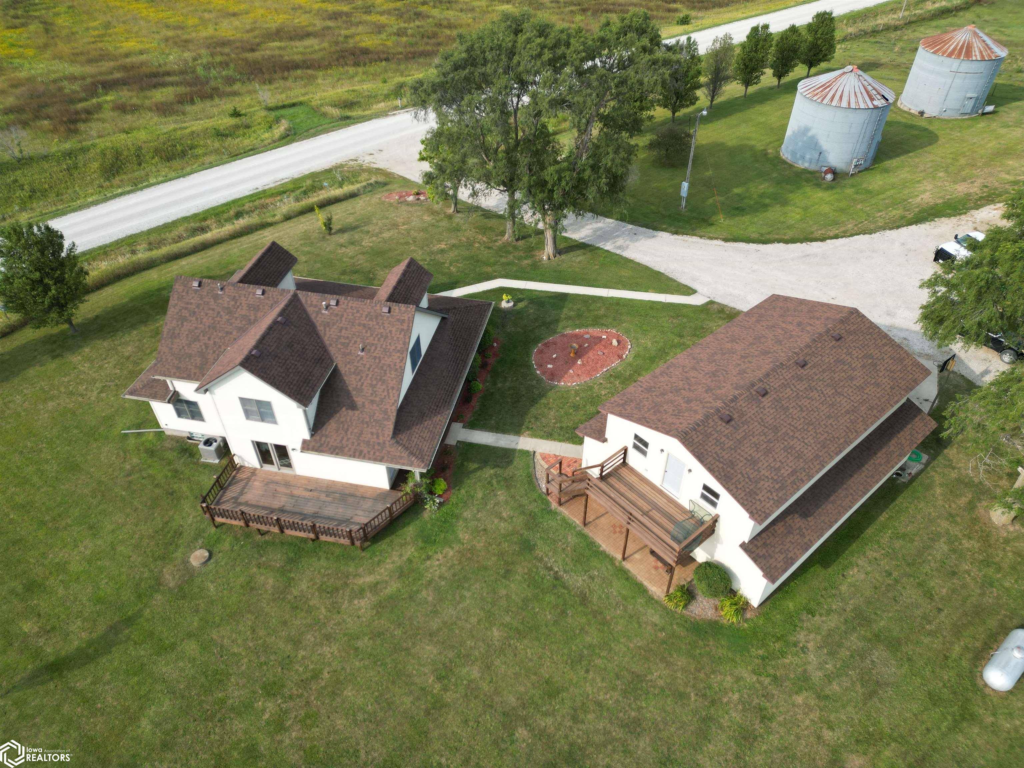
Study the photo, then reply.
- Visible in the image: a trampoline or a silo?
silo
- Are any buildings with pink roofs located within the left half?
No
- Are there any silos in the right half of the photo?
Yes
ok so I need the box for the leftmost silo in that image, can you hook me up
[779,66,896,174]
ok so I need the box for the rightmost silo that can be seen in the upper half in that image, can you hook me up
[897,23,1010,120]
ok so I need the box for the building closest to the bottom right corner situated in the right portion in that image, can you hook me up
[575,293,938,607]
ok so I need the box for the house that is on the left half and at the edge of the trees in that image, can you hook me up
[119,241,497,501]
